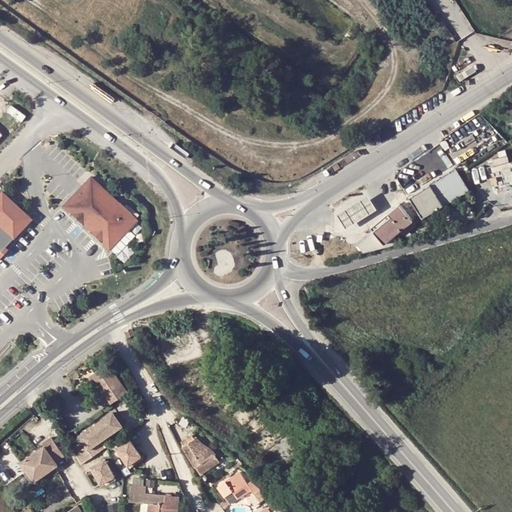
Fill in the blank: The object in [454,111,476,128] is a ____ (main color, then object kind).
white vehicle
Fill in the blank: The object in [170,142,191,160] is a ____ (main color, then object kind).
white vehicle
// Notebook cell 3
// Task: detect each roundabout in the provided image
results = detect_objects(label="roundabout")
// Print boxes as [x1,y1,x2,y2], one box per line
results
[174,197,282,305]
